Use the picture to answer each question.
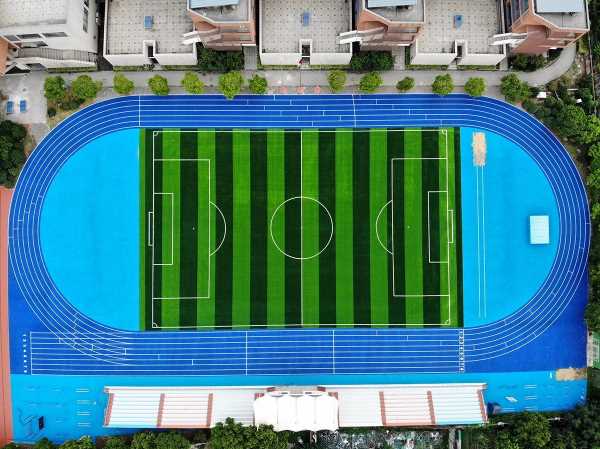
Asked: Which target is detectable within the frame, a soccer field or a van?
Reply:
soccer field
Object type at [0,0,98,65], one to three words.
building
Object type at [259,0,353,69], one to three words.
building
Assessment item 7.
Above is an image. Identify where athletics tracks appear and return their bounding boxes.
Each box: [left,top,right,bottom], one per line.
[6,93,594,375]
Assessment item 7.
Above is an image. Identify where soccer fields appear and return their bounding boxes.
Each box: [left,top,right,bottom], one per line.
[139,127,463,329]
